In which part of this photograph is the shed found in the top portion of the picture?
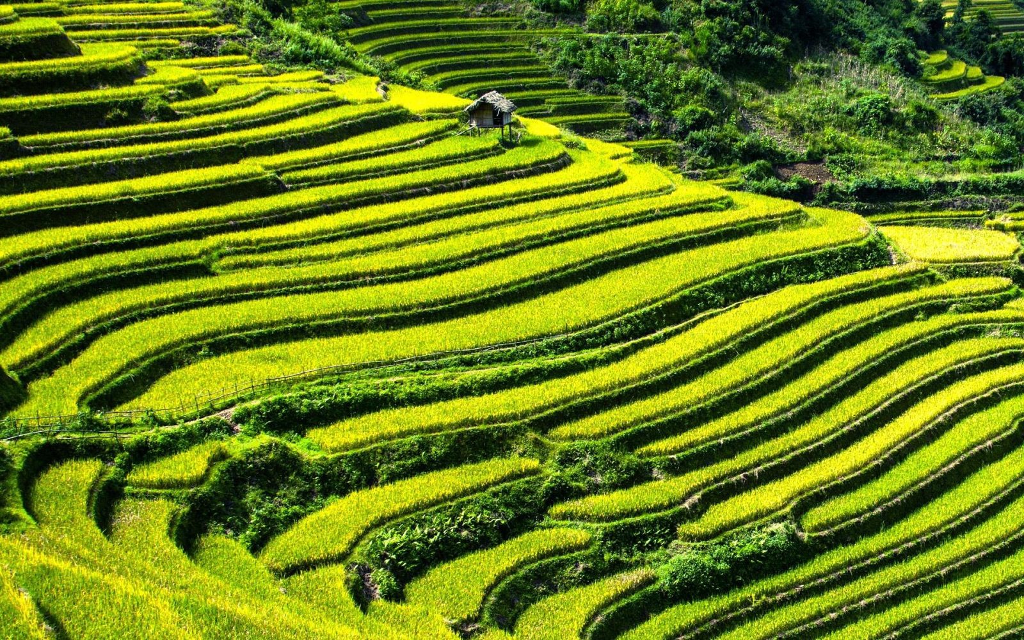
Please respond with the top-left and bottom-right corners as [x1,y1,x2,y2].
[466,89,516,141]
